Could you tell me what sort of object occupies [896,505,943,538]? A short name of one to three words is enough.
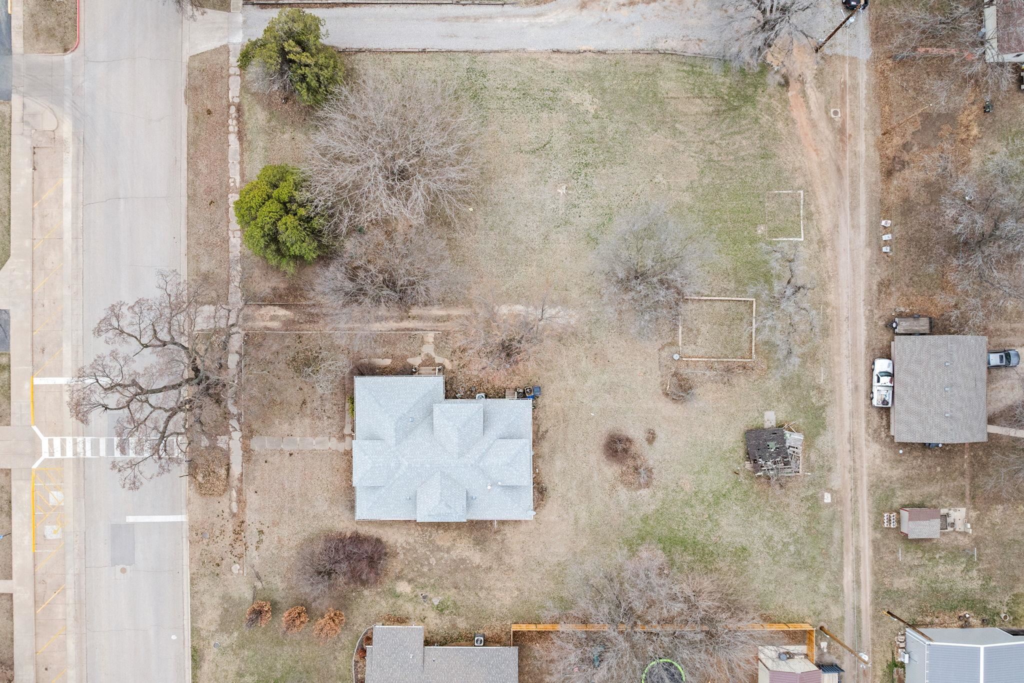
shed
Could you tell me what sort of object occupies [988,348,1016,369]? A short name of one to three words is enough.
car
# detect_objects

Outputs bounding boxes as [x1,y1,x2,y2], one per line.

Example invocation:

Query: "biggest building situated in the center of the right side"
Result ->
[890,336,988,444]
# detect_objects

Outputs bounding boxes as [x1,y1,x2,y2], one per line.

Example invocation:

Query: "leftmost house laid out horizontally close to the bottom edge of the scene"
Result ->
[364,617,518,683]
